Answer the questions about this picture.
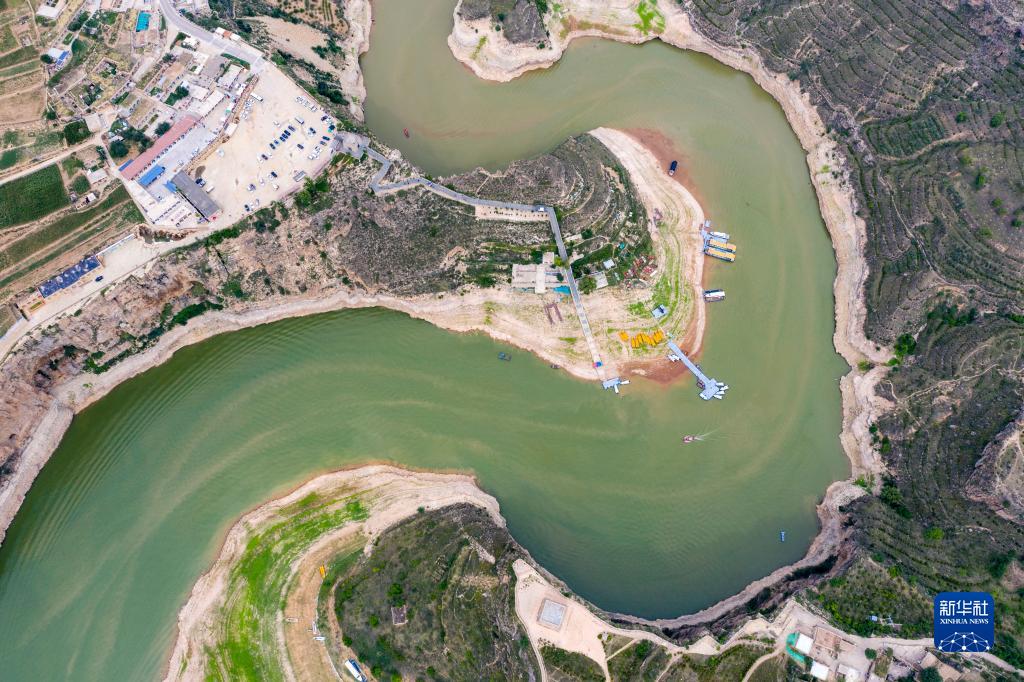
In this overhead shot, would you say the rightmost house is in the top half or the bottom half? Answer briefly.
bottom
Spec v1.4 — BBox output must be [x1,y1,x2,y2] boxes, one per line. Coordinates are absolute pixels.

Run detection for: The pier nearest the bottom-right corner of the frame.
[667,341,719,400]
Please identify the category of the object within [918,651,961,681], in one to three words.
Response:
house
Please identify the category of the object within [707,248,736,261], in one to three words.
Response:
boat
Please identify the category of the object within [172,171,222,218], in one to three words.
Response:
barn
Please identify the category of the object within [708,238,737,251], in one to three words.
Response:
boat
